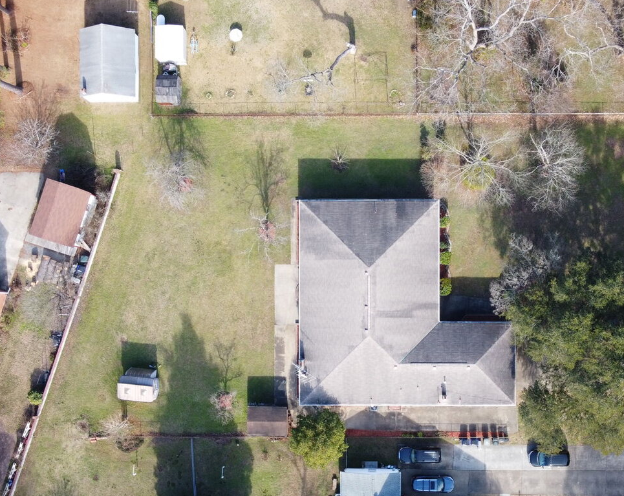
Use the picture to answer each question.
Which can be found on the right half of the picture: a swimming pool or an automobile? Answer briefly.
automobile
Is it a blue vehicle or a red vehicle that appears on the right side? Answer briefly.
blue vehicle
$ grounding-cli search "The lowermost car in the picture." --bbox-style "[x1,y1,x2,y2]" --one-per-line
[413,477,454,496]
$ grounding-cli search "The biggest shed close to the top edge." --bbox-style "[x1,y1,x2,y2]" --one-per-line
[78,24,141,102]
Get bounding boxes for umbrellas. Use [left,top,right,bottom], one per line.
[231,28,244,43]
